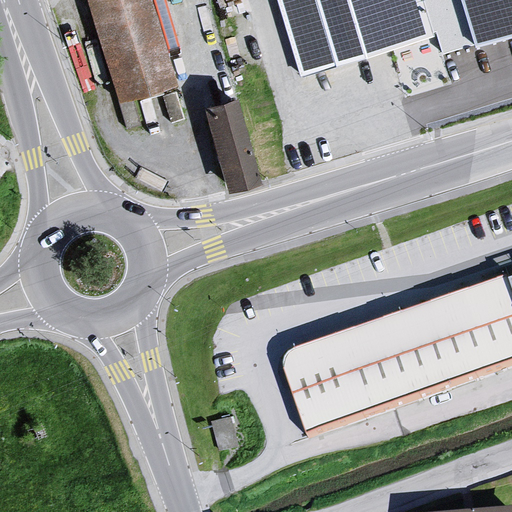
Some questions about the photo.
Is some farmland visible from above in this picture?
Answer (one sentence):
No, there's no farmland in this view.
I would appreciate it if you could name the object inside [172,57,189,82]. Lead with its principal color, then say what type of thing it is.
white vehicle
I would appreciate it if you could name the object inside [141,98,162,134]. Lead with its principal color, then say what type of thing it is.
white truck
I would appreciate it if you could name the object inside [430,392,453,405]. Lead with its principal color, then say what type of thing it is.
white vehicle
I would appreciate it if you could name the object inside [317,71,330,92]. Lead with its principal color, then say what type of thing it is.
gray vehicle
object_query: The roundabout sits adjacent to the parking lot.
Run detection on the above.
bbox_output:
[0,84,220,428]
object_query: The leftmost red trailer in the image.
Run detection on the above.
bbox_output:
[64,30,96,93]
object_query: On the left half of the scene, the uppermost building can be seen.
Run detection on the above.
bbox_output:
[88,0,178,103]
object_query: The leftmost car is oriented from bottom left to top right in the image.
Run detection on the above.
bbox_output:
[40,228,64,247]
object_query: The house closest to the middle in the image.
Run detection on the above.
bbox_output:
[206,100,262,194]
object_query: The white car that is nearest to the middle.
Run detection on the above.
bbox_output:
[242,299,256,321]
